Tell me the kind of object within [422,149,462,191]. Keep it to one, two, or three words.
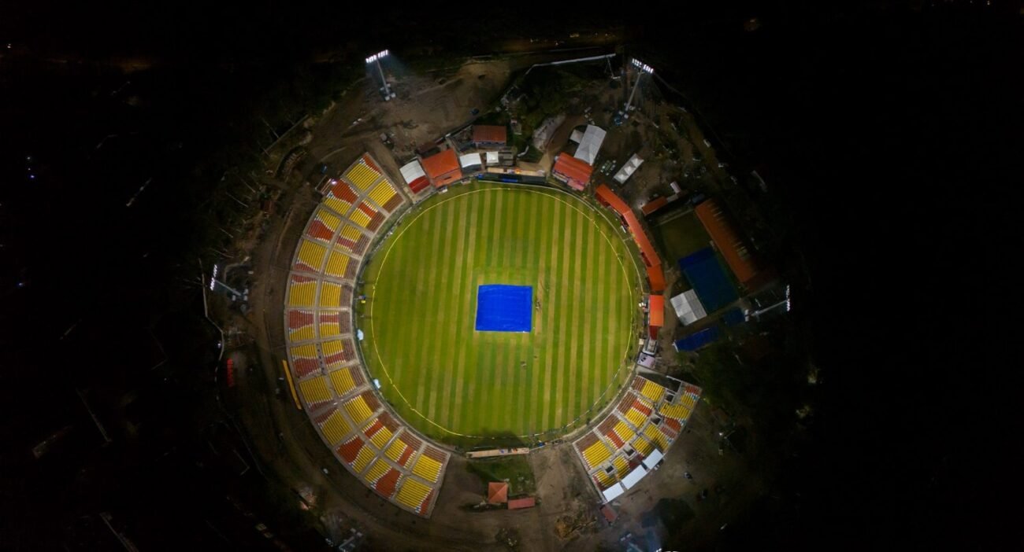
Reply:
building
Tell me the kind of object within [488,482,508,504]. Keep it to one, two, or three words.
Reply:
building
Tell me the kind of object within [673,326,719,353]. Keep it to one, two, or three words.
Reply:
shed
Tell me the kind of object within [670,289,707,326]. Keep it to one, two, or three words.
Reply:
barn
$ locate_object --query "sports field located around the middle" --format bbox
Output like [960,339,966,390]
[357,183,644,453]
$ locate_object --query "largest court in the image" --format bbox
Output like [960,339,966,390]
[685,254,739,312]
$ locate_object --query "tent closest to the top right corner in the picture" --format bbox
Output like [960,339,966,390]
[613,153,644,184]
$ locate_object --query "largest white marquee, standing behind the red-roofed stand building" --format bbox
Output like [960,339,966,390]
[574,125,606,166]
